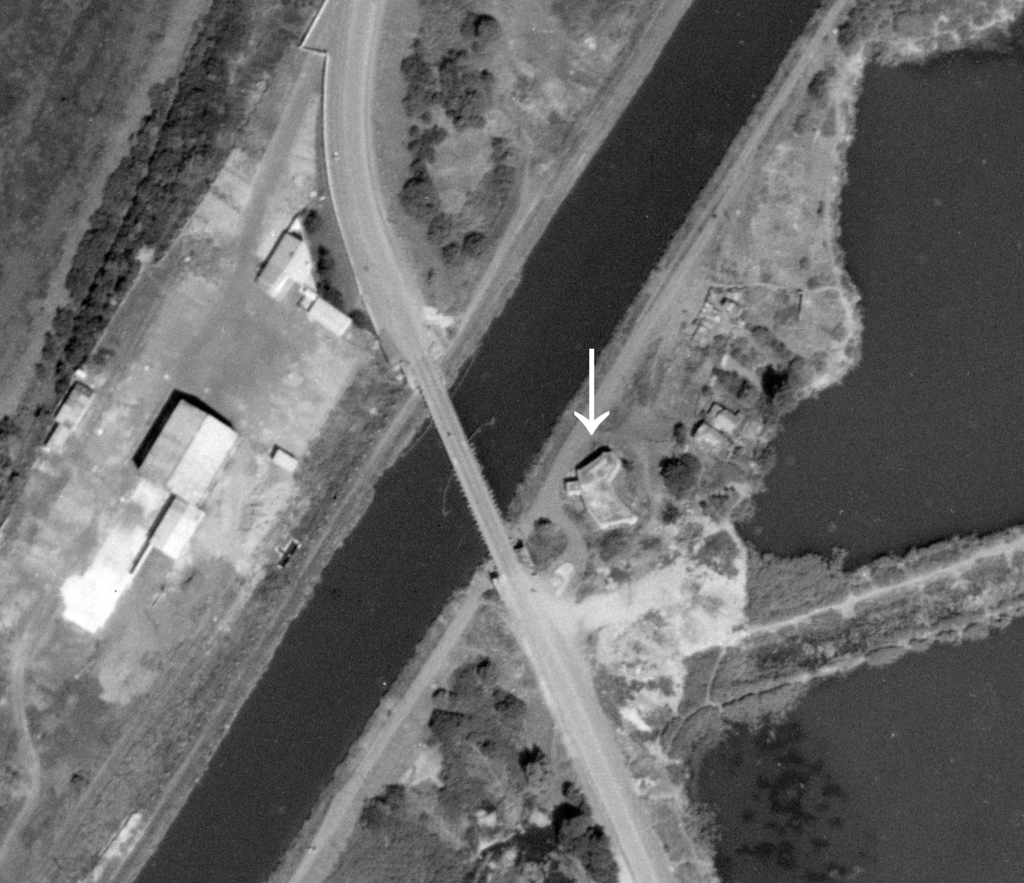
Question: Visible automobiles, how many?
none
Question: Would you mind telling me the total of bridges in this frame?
1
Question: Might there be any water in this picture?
Yes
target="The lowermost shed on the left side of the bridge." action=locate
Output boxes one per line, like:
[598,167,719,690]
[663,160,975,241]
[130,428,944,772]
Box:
[150,496,204,559]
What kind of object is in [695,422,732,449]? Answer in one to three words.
house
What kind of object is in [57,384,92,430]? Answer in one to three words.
house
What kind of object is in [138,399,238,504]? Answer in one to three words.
barn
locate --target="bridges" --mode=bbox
[410,369,525,573]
